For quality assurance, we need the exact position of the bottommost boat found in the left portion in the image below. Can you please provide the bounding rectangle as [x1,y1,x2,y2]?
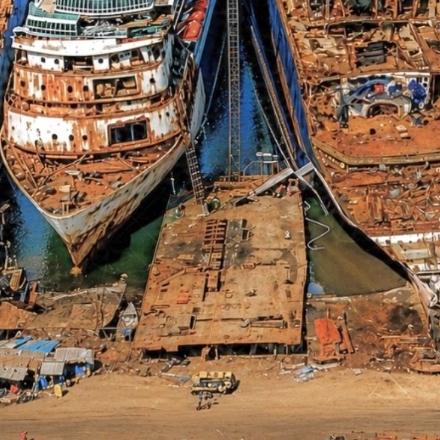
[119,300,137,333]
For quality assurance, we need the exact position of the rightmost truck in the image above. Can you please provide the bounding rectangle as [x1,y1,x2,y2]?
[191,362,236,393]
